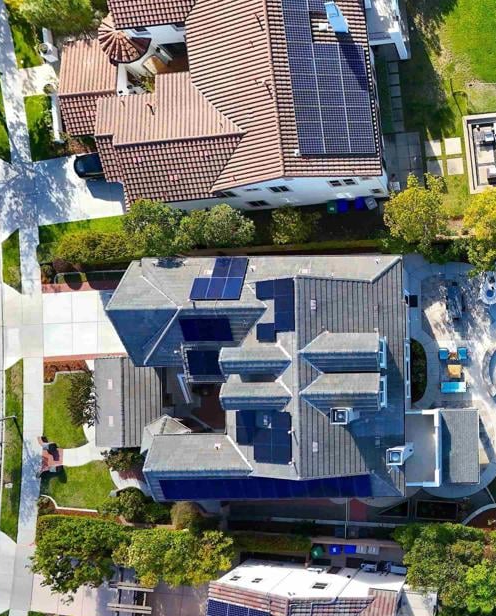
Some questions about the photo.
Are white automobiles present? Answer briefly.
No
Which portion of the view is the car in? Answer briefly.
top left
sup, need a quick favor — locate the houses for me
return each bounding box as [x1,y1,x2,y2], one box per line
[206,564,435,616]
[94,256,480,503]
[57,0,413,222]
